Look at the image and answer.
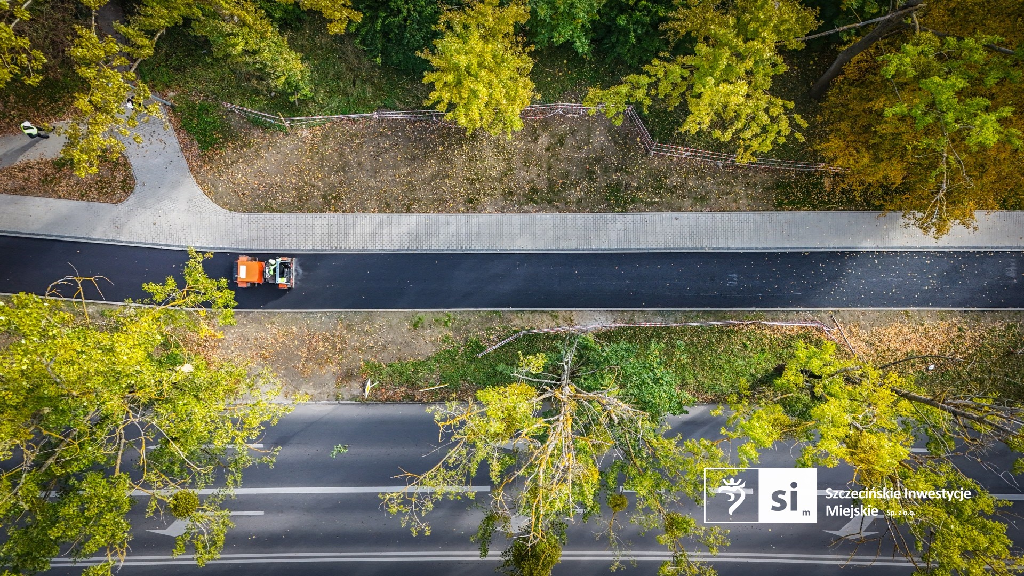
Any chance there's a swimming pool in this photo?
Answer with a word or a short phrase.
No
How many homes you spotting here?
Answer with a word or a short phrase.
zero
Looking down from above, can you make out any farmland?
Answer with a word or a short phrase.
No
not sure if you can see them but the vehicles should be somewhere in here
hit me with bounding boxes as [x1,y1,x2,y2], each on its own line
[235,256,297,288]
